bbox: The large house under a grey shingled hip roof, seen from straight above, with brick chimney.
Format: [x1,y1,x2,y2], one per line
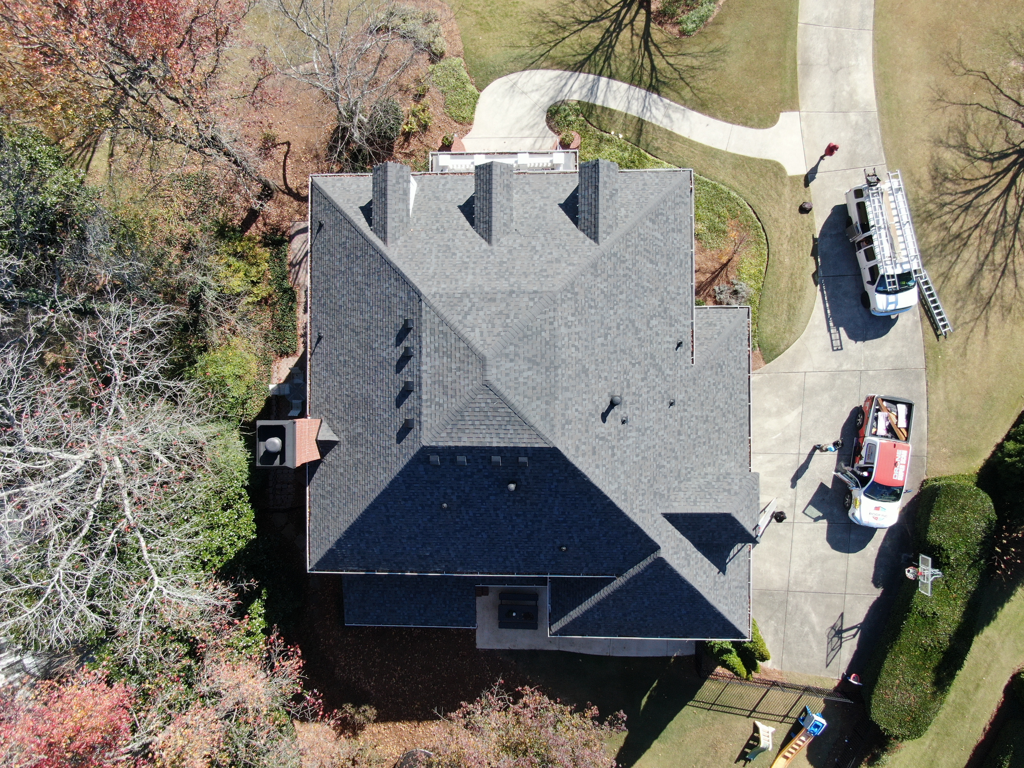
[259,151,760,640]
